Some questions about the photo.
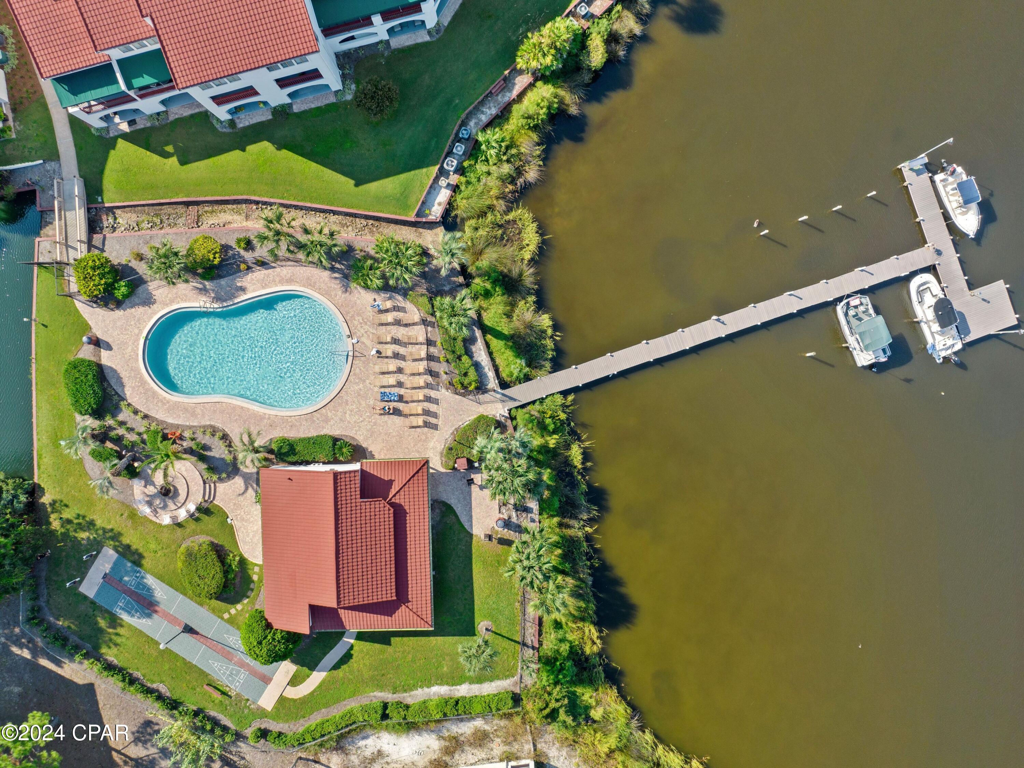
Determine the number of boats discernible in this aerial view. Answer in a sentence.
In total, 3 boats can be seen.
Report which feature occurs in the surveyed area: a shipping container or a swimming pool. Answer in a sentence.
Looking from above, you can make out a swimming pool.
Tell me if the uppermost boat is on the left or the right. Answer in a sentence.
The uppermost boat appears in the right half of the scene.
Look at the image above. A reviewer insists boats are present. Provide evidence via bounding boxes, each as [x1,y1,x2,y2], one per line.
[914,273,966,374]
[842,297,892,374]
[934,155,983,236]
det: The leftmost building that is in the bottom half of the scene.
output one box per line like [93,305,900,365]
[259,456,436,636]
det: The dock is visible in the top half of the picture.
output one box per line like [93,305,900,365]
[497,168,1022,412]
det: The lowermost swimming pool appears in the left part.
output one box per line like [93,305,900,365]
[139,285,356,416]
